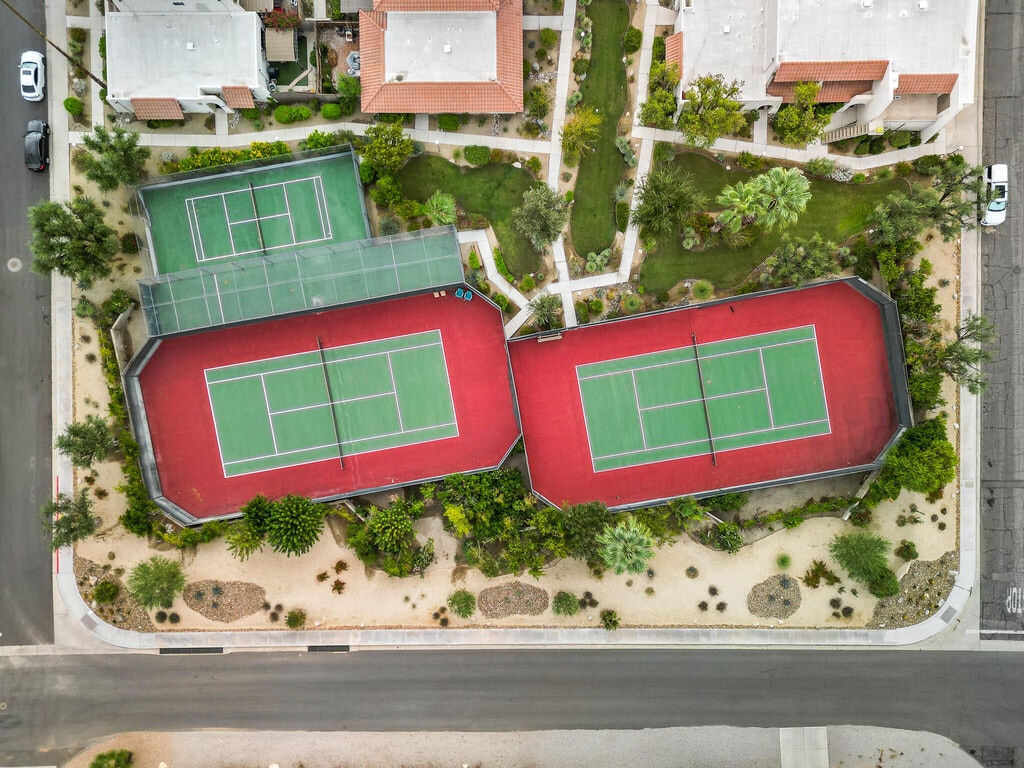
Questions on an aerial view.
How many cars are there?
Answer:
3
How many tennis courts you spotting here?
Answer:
three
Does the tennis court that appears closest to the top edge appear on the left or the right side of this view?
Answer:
left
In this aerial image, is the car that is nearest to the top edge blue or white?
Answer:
white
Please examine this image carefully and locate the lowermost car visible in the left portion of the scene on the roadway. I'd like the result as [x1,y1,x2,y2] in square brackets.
[21,122,49,170]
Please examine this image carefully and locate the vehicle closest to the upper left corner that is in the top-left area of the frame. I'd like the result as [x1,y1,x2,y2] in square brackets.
[18,53,46,101]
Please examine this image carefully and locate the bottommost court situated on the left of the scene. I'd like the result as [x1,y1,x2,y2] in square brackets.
[138,287,520,519]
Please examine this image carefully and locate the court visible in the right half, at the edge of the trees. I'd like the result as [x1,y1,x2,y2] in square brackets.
[510,282,900,514]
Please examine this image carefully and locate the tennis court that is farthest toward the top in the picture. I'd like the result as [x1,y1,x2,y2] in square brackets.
[141,153,465,334]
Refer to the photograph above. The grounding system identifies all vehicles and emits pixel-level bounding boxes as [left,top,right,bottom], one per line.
[979,167,1009,227]
[21,122,49,170]
[18,53,46,101]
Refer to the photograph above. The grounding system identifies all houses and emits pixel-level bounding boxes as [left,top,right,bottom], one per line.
[360,0,524,116]
[107,13,270,119]
[768,0,975,147]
